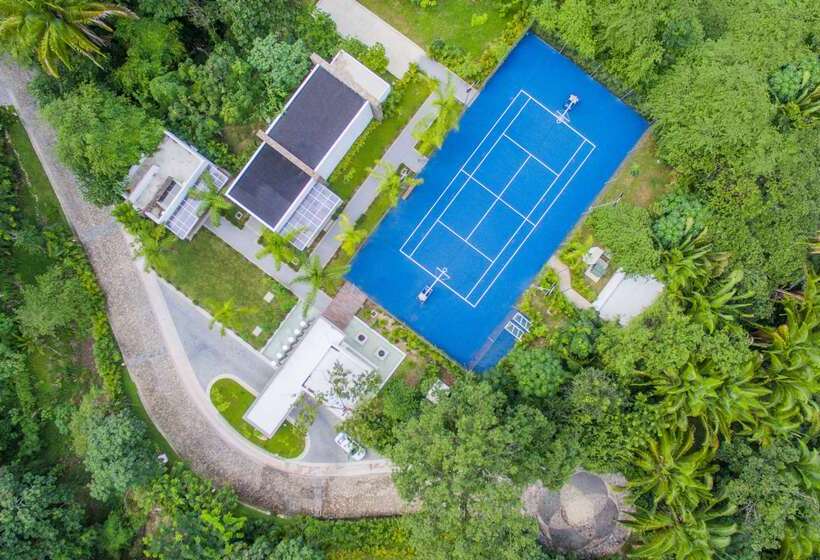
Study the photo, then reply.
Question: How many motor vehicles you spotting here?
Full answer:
My tally gives 1 motor vehicle in this photo.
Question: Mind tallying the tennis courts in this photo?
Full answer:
Only 1 tennis court is visible.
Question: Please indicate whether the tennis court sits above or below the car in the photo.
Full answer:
You can see the tennis court above the car in the frame.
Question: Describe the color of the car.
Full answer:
The color of the car is white.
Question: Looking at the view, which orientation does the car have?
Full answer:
The car is oriented on a diagonal.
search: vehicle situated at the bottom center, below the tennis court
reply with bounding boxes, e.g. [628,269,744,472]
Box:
[333,433,366,463]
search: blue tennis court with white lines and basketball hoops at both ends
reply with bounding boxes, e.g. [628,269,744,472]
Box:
[348,34,645,379]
